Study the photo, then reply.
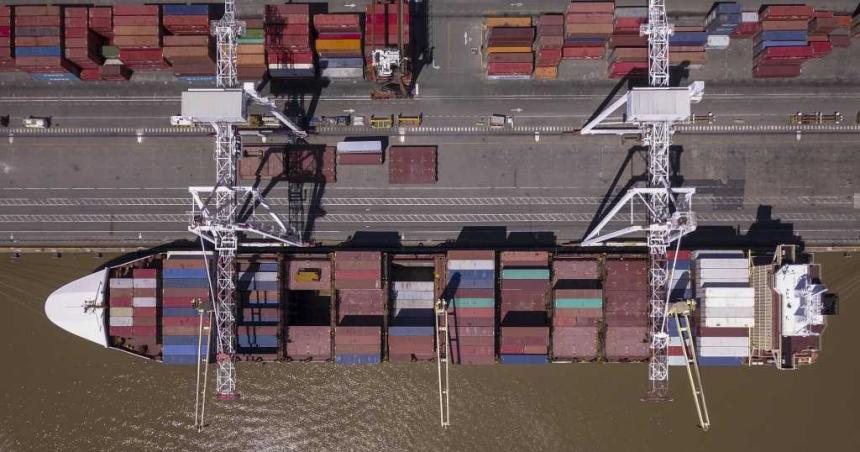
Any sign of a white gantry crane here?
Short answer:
Yes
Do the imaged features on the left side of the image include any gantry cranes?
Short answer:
Yes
